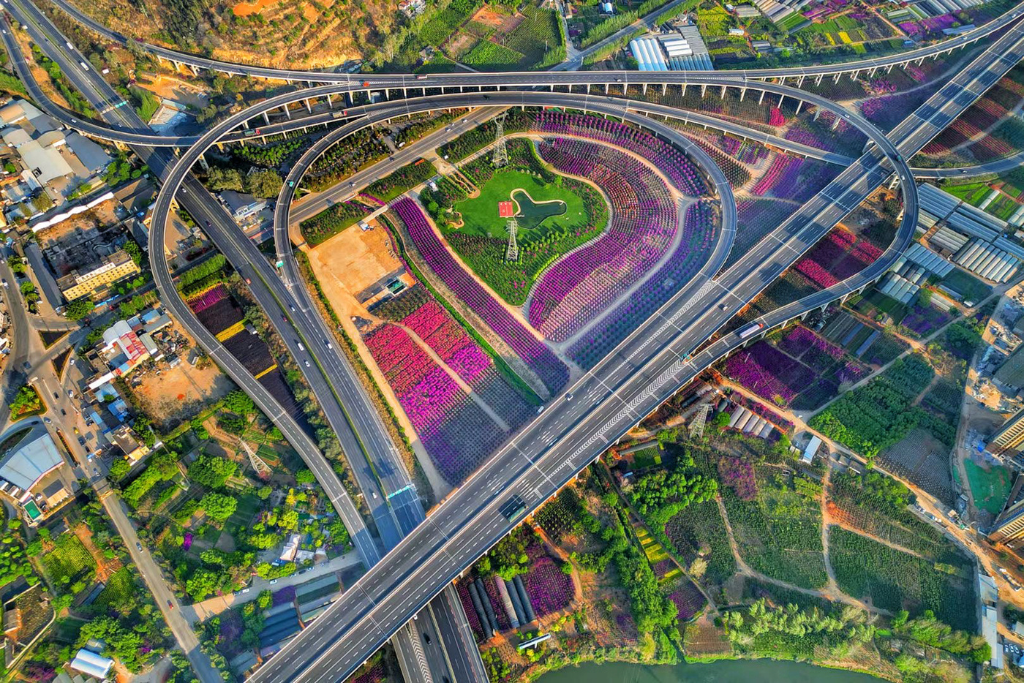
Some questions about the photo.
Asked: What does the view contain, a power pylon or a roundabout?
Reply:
power pylon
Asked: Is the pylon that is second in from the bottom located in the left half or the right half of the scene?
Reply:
right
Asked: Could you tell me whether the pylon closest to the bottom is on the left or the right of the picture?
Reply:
left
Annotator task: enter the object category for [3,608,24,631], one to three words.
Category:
house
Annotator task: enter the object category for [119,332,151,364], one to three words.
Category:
building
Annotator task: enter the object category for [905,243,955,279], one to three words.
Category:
greenhouse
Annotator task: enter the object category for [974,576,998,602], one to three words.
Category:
shed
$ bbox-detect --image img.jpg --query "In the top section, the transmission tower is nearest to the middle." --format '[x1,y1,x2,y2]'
[502,225,522,263]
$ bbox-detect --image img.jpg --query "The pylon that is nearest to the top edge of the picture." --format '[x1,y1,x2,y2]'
[492,121,509,168]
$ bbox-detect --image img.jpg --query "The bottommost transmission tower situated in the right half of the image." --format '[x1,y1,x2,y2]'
[686,403,721,445]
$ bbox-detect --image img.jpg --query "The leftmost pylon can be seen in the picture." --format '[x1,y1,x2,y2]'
[232,440,270,481]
